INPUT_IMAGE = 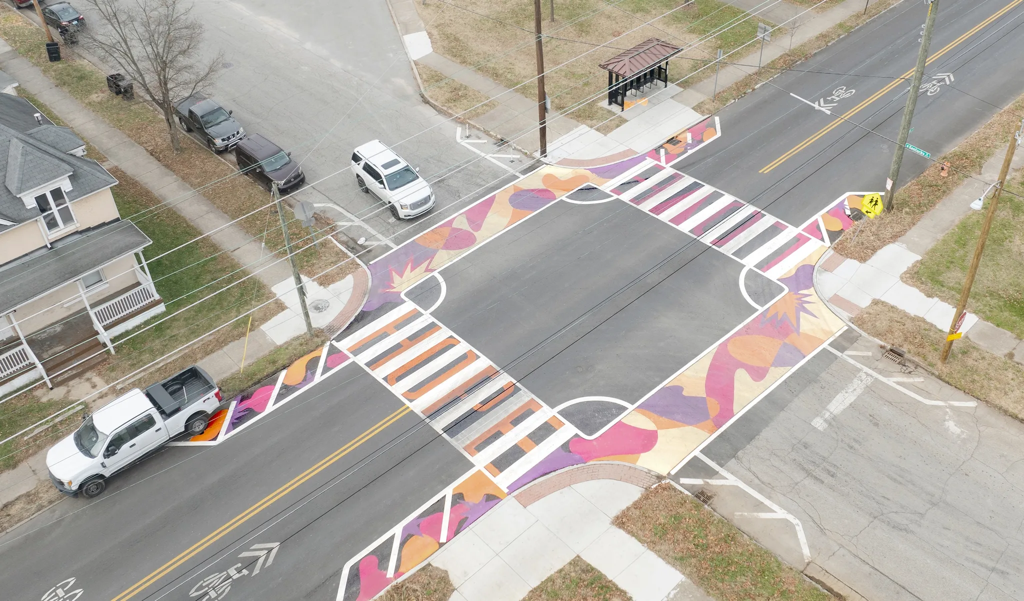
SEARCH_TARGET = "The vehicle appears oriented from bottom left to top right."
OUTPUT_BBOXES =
[42,364,227,502]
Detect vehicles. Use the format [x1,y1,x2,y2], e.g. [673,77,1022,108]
[352,140,442,221]
[233,131,310,195]
[42,364,227,502]
[175,95,251,155]
[43,0,89,28]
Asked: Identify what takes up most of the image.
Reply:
paved ground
